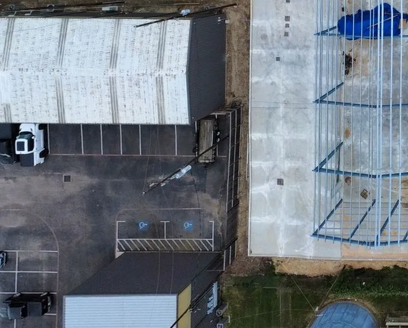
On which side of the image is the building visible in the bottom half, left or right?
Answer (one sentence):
The building visible in the bottom half appears in the left half of the scene.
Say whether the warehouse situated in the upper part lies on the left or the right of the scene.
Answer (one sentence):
It is on the left.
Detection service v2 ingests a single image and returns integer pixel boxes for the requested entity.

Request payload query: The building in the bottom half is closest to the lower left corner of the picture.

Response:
[59,249,222,328]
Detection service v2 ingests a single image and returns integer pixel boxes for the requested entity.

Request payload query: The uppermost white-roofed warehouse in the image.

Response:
[0,9,225,126]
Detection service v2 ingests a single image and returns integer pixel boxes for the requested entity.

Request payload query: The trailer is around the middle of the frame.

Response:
[193,118,219,172]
